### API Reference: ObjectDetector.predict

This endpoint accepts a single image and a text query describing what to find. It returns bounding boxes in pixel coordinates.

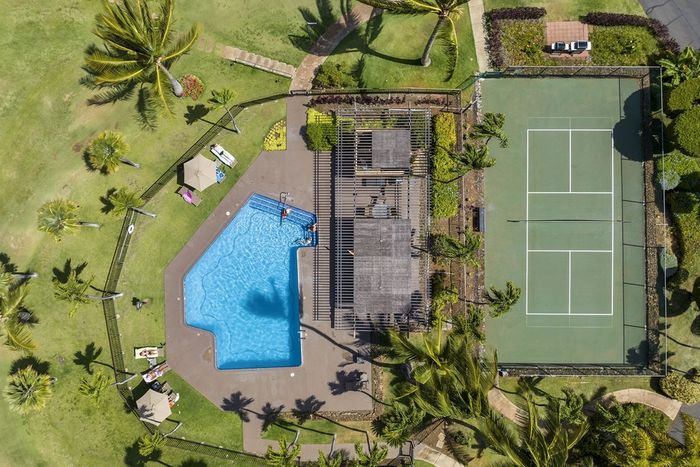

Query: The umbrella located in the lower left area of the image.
[136,388,172,426]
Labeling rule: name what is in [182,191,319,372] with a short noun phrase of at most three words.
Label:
swimming pool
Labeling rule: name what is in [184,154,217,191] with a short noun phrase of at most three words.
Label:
umbrella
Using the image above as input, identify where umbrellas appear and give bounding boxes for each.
[136,388,172,426]
[184,154,217,191]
